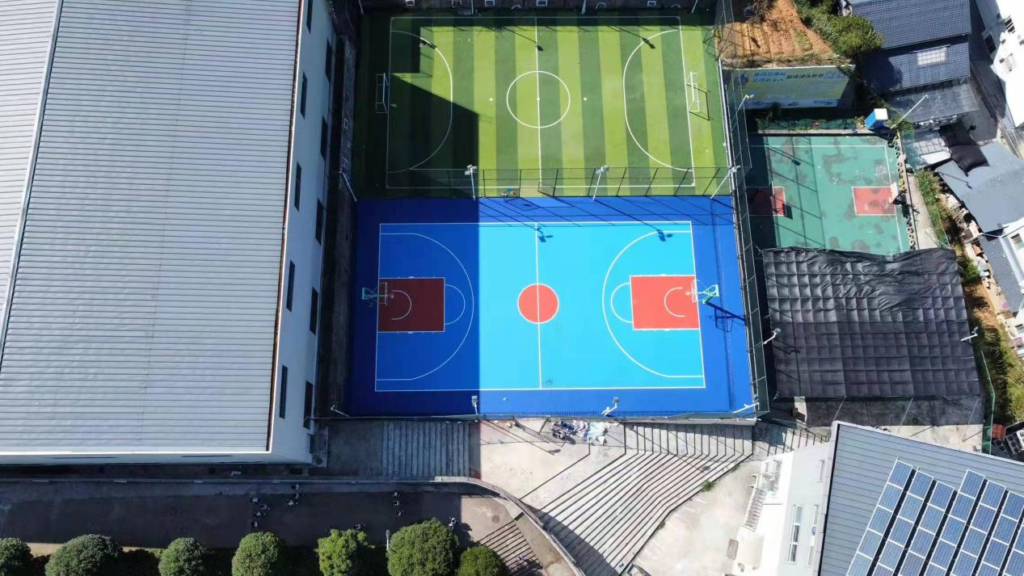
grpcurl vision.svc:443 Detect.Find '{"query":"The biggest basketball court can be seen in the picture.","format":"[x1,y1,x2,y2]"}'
[348,195,751,416]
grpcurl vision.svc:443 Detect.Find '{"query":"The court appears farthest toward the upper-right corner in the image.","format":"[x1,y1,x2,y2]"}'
[735,135,908,338]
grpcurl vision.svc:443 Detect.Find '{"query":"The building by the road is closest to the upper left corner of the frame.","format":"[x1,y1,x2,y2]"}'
[0,0,336,467]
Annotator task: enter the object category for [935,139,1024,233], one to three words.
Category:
shed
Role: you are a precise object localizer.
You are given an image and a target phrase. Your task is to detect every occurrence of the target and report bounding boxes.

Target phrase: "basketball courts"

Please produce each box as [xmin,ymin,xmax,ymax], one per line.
[735,135,908,338]
[348,195,751,416]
